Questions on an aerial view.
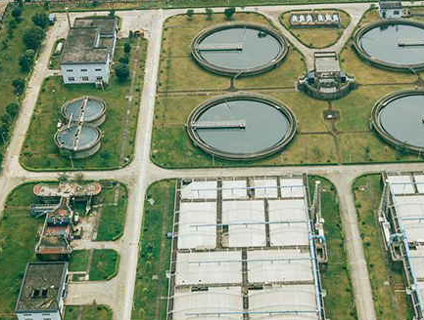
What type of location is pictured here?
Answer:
industrial area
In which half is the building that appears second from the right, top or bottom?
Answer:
top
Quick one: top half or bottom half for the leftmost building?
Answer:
bottom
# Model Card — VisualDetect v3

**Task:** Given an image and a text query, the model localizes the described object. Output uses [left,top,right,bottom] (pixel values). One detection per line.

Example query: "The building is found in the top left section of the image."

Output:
[55,16,119,83]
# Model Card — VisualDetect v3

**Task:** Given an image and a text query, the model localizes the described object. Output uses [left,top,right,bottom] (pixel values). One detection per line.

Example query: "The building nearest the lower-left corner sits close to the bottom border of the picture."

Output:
[12,259,72,320]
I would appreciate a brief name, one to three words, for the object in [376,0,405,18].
house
